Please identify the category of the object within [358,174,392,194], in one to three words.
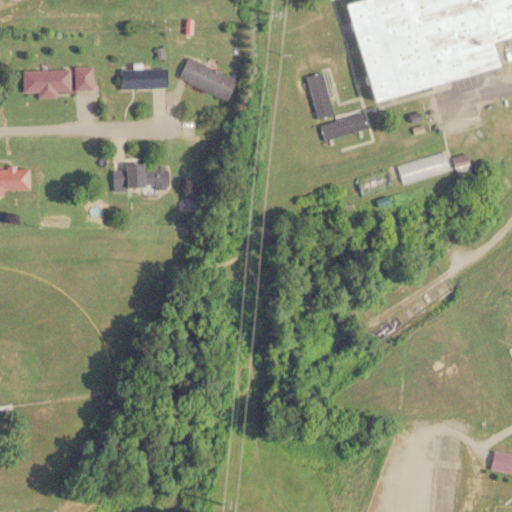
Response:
greenhouse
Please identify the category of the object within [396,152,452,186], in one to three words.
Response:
shed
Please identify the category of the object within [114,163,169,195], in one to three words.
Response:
house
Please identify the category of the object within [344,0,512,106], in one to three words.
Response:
building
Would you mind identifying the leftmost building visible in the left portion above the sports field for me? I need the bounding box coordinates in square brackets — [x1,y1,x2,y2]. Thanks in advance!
[0,165,31,198]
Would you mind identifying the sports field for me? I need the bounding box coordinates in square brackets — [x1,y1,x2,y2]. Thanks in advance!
[0,264,114,411]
